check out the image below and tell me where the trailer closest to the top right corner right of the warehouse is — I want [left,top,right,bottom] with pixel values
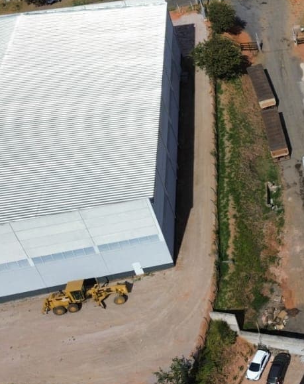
[248,66,276,113]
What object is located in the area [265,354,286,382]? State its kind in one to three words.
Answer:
car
